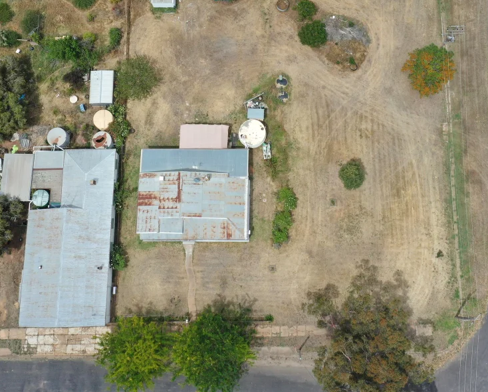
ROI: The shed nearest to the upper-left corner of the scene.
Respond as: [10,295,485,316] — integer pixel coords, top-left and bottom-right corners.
[89,69,116,107]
